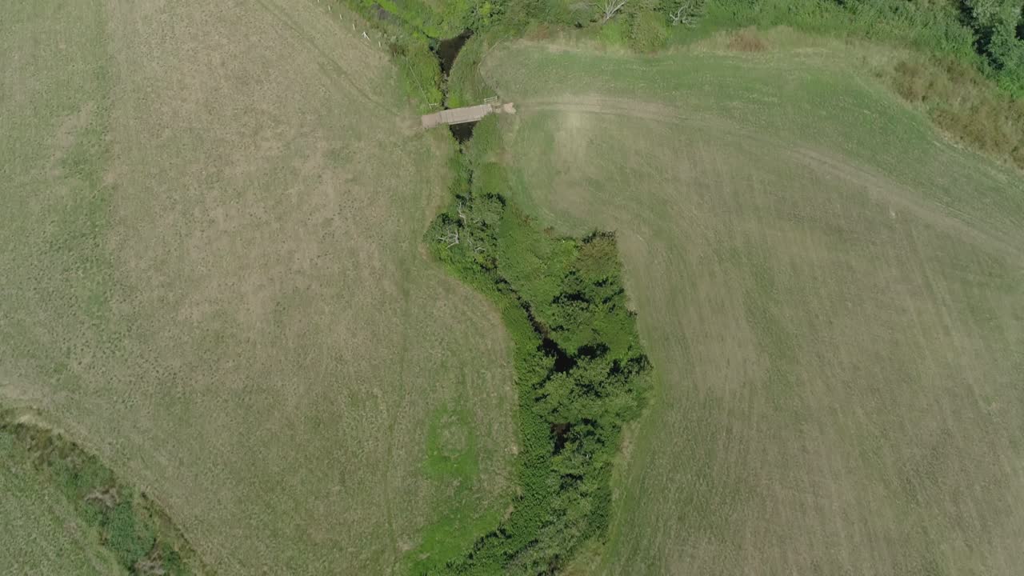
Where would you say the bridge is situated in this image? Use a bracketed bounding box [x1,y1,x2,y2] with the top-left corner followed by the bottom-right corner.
[421,104,497,128]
